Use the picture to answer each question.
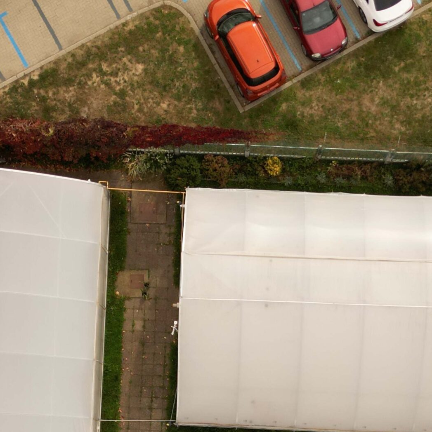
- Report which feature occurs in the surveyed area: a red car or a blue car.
red car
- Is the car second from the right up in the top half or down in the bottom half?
top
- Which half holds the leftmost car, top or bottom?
top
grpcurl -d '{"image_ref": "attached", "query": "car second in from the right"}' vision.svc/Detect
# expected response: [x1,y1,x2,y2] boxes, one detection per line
[278,0,342,59]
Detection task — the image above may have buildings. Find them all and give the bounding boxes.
[175,188,432,432]
[0,167,111,432]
